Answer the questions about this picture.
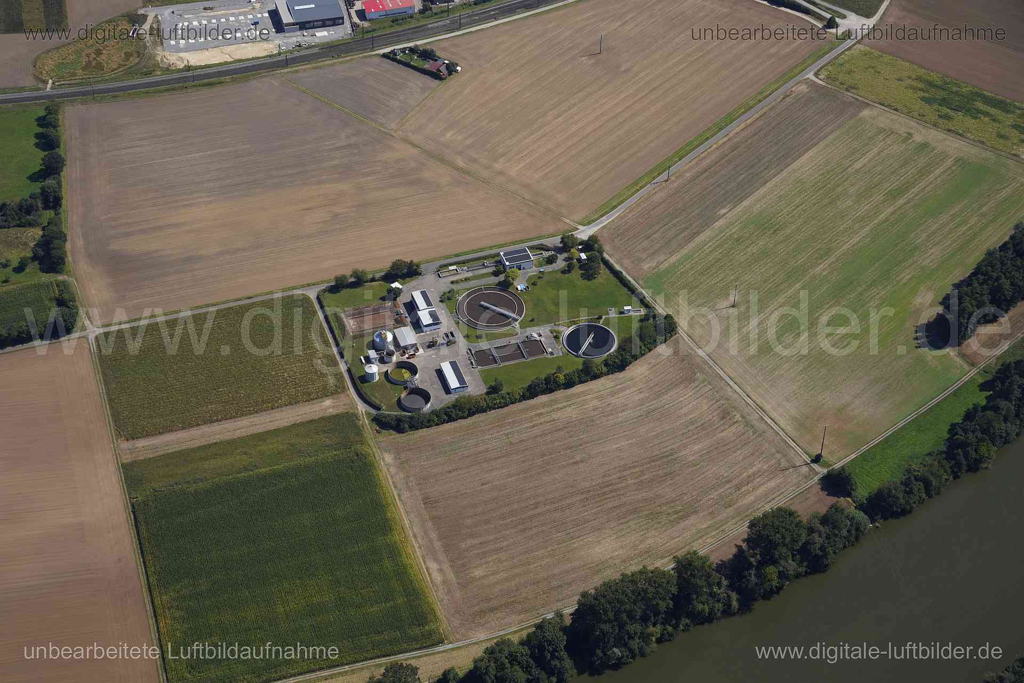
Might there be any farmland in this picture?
Yes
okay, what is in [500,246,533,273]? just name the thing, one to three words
house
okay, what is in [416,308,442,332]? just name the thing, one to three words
building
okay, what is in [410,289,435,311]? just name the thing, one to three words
building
